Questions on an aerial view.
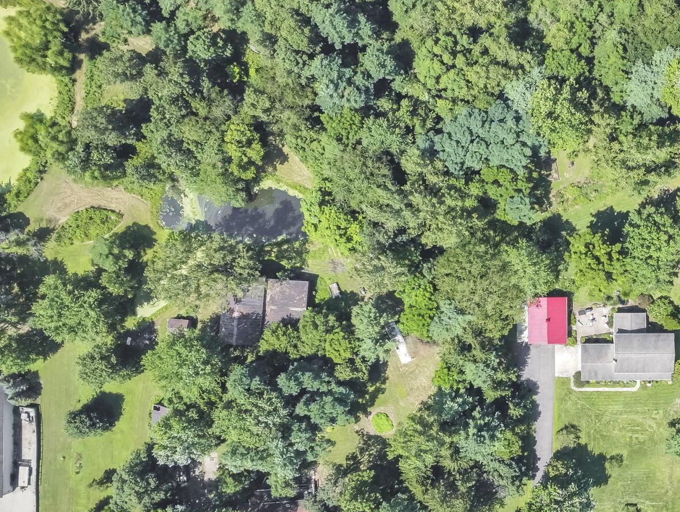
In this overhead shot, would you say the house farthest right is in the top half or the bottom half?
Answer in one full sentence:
Seen from above, the house farthest right lies in the bottom half of the view.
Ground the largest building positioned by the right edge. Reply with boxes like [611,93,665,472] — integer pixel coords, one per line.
[581,313,675,387]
